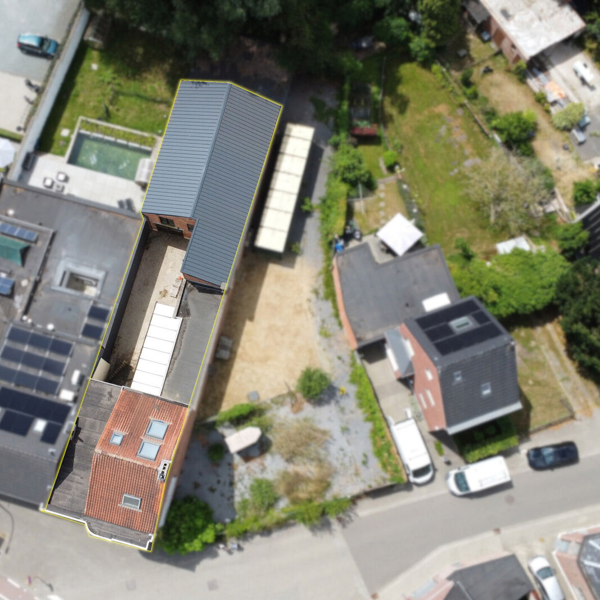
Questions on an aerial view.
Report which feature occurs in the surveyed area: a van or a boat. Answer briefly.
van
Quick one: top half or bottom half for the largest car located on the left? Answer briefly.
top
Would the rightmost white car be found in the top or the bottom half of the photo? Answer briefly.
bottom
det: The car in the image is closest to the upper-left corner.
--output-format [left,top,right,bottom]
[15,33,61,60]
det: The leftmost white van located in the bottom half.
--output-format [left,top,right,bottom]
[385,412,432,486]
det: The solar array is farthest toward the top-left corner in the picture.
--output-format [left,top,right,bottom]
[0,222,39,244]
